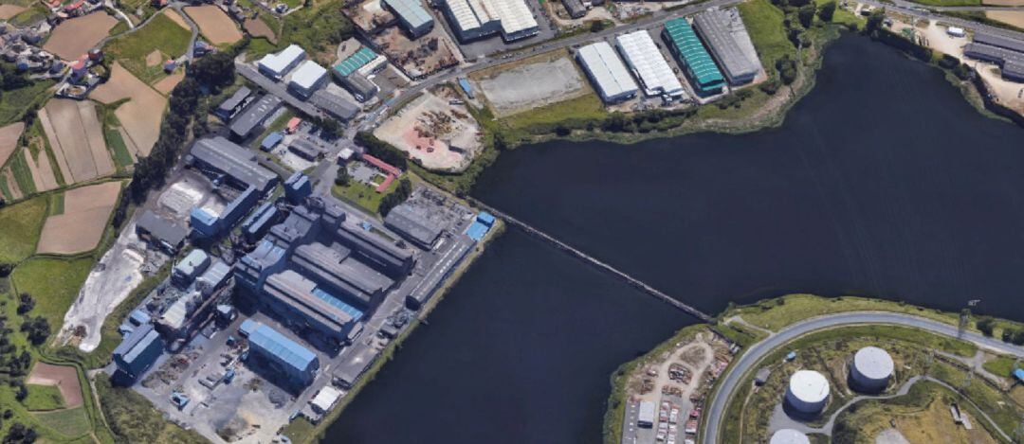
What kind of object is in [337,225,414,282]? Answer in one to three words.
building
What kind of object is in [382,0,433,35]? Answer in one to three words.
building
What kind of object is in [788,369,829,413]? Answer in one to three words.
storage tank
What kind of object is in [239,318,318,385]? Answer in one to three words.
shed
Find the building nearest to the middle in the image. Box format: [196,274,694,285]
[465,211,495,245]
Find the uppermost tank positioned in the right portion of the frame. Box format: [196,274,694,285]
[852,346,894,389]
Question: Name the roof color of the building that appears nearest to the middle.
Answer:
blue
